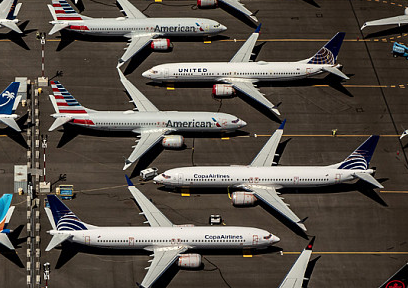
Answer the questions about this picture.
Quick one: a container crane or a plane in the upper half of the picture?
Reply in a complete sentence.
There is a plane in the upper half of the picture.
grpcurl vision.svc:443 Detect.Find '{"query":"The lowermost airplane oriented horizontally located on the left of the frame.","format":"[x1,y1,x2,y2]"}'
[44,171,279,288]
